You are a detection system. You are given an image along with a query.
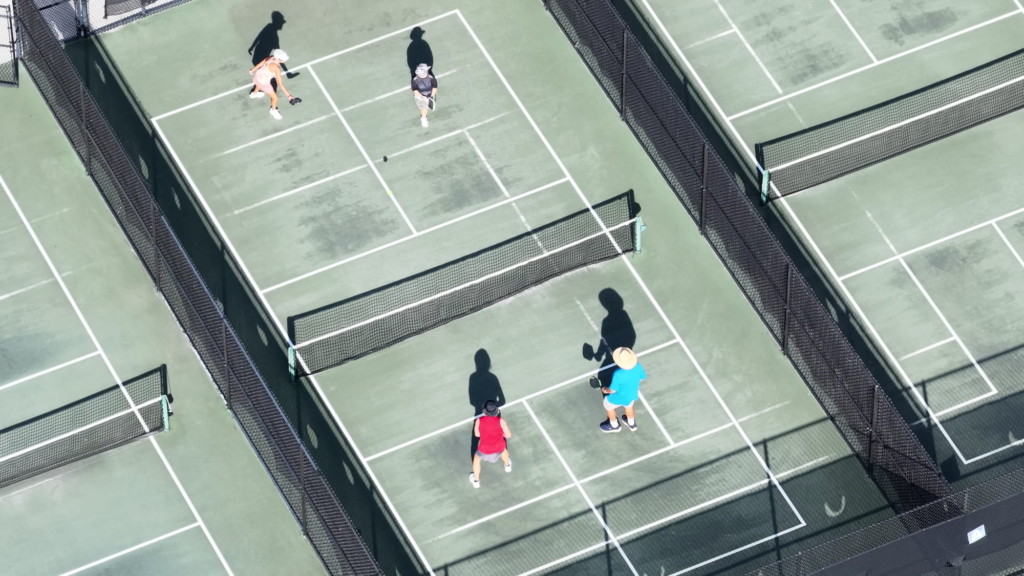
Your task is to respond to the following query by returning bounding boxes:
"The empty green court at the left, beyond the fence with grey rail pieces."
[0,62,326,576]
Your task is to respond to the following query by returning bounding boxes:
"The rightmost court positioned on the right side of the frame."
[544,0,1024,576]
